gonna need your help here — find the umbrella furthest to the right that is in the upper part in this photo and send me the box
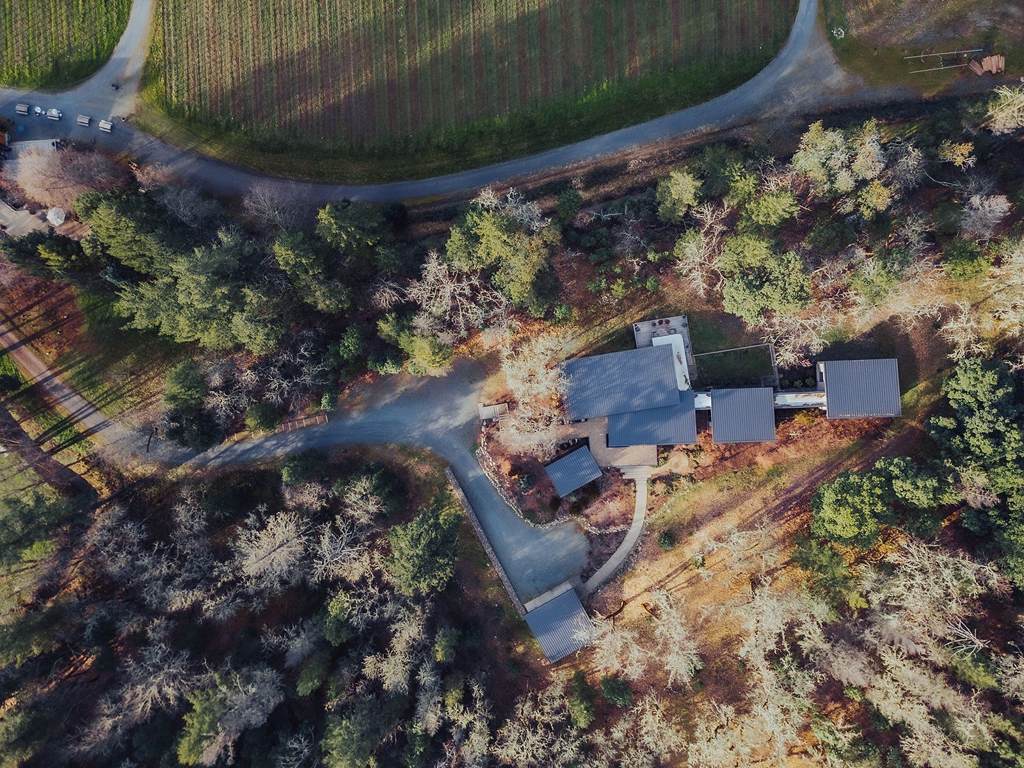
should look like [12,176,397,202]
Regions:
[47,206,68,225]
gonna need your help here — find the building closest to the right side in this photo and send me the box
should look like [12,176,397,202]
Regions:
[818,358,900,420]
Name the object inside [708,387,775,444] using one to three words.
house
